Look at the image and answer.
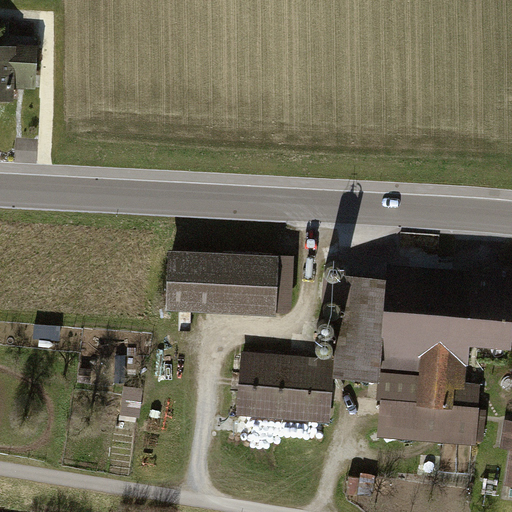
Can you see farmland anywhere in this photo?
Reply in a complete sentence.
Yes, there's farmland in this view.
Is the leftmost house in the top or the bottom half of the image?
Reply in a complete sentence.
The leftmost house sits in the top half of the picture.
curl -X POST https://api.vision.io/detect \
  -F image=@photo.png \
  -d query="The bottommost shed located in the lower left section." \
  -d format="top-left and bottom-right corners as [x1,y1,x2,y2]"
[119,387,143,422]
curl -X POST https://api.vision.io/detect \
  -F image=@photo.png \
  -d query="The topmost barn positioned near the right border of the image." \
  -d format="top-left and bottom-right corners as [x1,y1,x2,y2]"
[382,266,512,372]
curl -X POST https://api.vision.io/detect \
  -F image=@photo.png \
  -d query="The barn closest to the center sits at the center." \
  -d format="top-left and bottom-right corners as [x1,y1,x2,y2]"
[165,250,294,316]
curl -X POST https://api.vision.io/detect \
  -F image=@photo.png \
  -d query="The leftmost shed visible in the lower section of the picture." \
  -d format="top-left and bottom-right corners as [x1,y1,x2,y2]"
[33,325,61,341]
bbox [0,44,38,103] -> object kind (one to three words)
house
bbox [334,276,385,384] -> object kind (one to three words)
shed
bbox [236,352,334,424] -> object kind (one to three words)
shed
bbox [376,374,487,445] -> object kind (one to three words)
building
